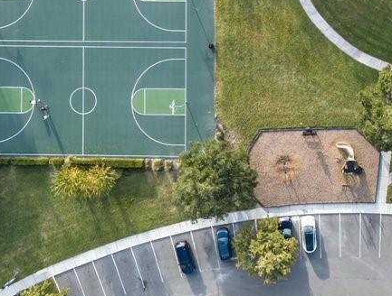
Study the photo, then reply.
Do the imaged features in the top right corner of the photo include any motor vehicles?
No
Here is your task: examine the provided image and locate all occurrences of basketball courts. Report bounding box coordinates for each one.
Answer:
[0,0,186,43]
[0,47,186,156]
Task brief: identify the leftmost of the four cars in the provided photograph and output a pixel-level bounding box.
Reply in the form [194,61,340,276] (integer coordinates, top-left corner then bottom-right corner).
[175,240,195,275]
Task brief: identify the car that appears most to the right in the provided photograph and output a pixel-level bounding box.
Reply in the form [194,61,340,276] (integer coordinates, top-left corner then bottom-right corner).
[301,216,318,253]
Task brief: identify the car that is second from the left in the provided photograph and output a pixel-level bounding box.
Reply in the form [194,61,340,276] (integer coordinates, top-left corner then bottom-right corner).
[215,226,232,261]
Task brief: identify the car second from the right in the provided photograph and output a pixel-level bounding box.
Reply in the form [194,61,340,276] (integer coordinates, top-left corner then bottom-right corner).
[279,215,295,248]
